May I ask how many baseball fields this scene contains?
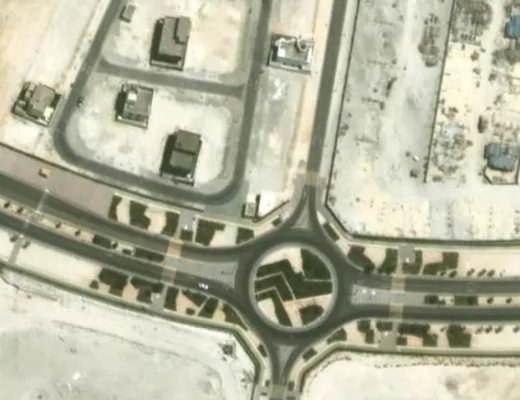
0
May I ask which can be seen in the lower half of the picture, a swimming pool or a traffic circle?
traffic circle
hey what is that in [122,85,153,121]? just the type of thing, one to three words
house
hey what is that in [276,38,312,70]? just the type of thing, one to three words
house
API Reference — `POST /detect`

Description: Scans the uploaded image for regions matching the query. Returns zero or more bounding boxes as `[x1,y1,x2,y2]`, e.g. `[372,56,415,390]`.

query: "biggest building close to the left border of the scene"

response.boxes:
[19,83,55,117]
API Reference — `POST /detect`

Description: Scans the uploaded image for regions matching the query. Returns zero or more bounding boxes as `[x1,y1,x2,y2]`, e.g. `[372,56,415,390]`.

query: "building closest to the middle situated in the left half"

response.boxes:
[169,129,201,176]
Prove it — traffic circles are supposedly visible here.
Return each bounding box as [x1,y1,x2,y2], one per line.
[210,186,390,384]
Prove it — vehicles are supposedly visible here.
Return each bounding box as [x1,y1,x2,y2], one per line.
[199,283,209,289]
[77,97,84,107]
